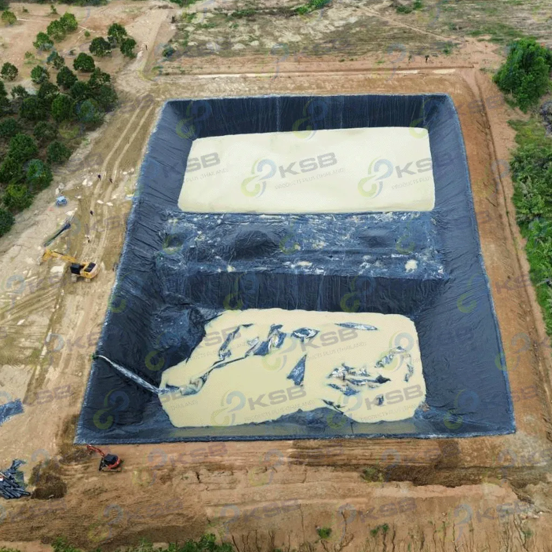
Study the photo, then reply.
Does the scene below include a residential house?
No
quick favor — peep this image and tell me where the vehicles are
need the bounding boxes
[53,192,68,209]
[91,445,121,476]
[45,249,100,286]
